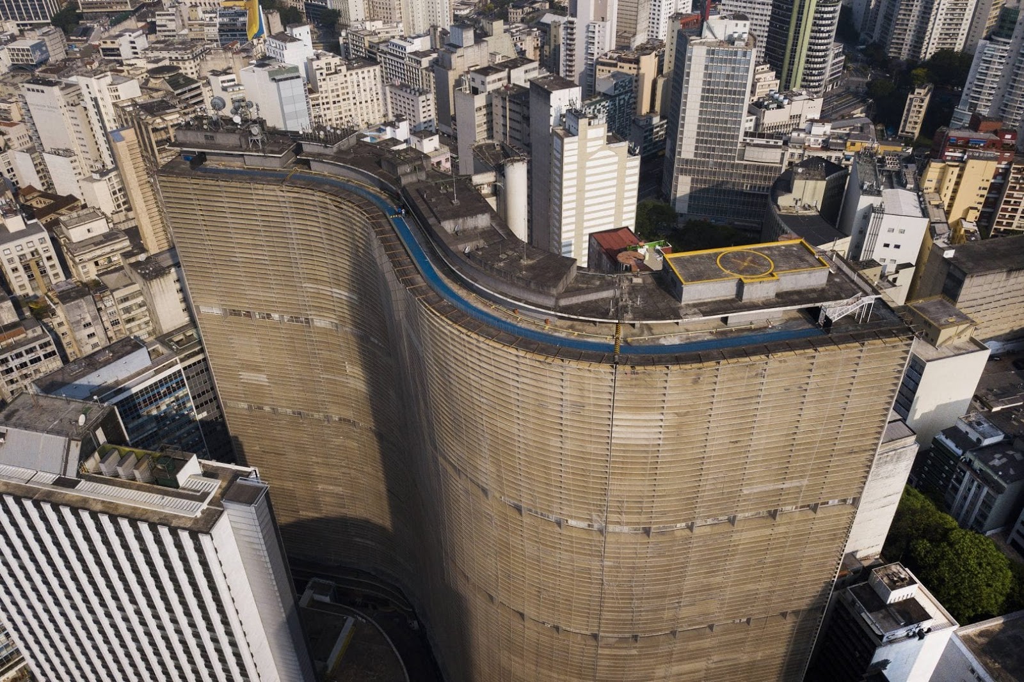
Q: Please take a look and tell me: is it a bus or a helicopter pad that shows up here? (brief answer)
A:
helicopter pad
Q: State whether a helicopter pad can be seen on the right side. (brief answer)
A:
Yes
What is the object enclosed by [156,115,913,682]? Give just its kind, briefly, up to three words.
building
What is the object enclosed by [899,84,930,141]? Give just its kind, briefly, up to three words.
building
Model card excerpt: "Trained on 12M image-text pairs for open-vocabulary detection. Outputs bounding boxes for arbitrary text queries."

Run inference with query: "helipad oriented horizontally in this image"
[662,237,829,299]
